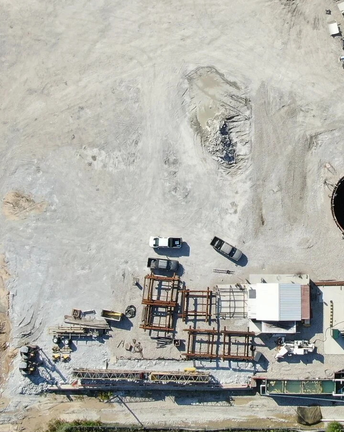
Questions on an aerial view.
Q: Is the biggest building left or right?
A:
right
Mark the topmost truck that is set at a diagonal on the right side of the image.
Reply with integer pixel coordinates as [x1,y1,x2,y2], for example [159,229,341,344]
[210,235,243,262]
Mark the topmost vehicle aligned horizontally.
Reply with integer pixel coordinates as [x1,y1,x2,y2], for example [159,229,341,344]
[149,235,183,249]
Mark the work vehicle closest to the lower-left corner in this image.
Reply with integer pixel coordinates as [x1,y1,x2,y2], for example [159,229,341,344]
[14,362,41,376]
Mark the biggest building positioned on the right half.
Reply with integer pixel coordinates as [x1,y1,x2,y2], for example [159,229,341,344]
[247,284,310,333]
